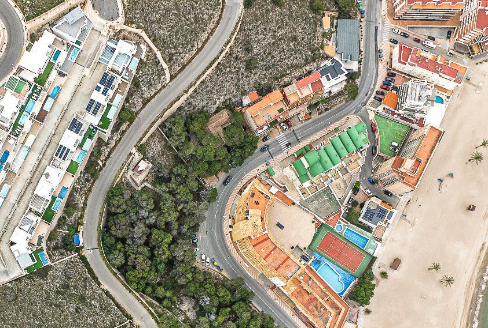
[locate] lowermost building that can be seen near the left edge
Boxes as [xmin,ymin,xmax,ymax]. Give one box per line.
[10,240,37,270]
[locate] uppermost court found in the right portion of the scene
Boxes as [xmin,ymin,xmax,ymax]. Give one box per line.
[299,186,343,219]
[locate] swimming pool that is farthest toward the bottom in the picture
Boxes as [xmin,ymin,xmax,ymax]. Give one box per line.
[314,260,346,294]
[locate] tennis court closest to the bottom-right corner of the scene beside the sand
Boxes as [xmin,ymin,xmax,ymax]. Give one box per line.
[308,223,375,277]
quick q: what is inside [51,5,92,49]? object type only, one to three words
house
